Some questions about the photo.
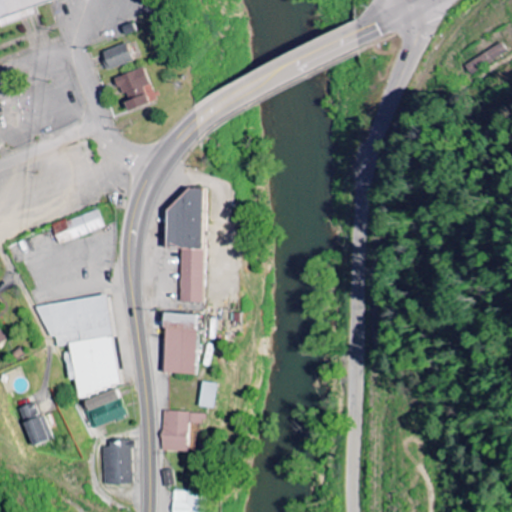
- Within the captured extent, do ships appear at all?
No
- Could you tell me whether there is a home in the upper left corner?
Yes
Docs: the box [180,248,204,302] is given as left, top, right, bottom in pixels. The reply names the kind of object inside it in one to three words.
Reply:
building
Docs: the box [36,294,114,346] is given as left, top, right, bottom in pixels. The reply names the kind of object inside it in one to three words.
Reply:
building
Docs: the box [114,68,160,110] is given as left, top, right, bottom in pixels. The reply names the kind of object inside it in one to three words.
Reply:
house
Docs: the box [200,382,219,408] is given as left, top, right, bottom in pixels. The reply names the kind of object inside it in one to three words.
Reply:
shed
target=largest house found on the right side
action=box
[466,43,505,73]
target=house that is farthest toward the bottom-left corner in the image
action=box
[20,404,58,446]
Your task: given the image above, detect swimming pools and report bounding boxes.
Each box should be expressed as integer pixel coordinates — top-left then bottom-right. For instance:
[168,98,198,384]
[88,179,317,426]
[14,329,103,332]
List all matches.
[12,378,28,392]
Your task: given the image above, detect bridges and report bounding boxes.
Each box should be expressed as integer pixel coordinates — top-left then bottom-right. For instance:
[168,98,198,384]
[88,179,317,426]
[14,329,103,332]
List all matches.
[188,24,364,138]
